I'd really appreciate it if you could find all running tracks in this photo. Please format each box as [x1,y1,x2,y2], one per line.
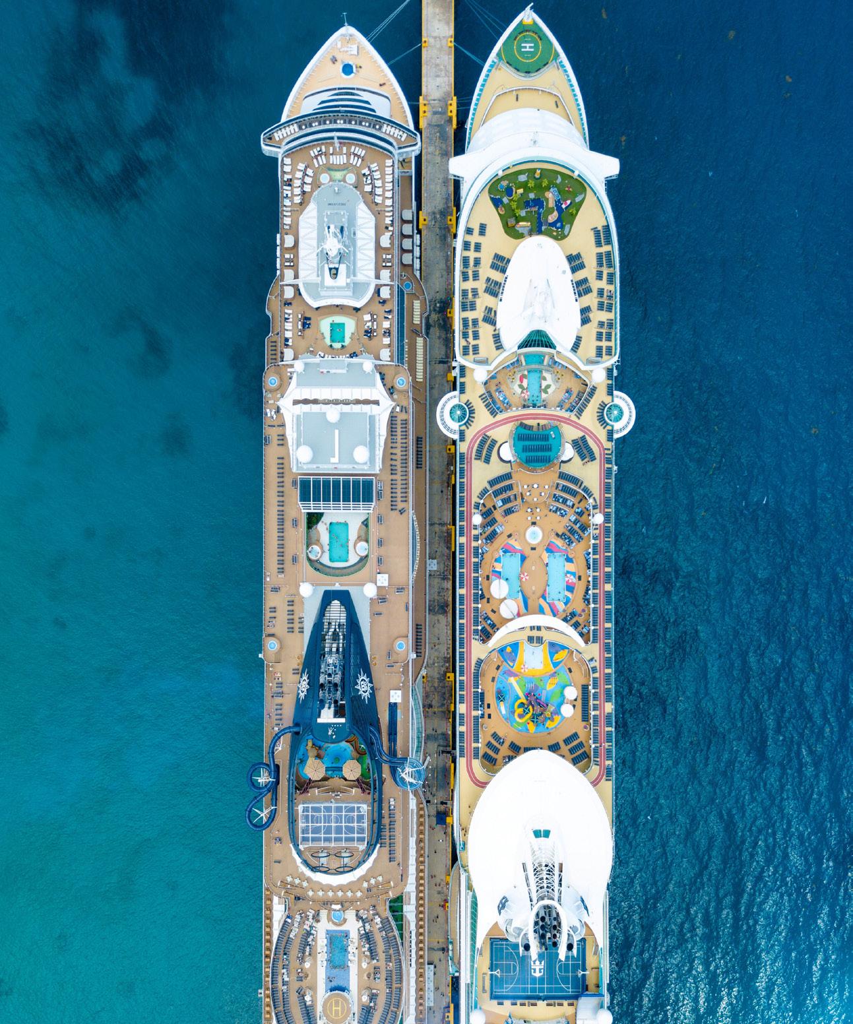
[465,413,606,787]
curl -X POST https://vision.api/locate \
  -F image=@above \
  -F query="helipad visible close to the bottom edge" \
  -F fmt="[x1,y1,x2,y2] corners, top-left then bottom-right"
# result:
[321,986,353,1023]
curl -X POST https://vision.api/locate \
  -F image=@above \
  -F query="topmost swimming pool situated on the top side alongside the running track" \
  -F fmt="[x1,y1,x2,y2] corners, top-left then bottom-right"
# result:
[508,359,560,404]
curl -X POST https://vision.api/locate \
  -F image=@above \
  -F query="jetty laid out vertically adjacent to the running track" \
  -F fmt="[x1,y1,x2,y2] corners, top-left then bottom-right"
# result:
[421,0,454,1024]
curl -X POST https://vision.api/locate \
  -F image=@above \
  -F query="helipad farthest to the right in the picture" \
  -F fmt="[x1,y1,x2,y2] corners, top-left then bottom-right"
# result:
[495,19,560,75]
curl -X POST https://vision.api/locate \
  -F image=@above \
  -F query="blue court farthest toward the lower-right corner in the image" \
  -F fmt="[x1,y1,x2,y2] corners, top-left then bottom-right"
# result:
[488,933,590,1000]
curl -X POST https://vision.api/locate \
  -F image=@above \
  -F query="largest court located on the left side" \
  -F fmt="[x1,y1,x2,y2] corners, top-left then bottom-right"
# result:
[297,796,370,848]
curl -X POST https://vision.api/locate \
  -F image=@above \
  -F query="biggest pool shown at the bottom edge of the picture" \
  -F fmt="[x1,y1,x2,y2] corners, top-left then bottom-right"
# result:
[325,929,350,993]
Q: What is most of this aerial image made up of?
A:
water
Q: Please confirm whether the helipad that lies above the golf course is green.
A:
Yes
